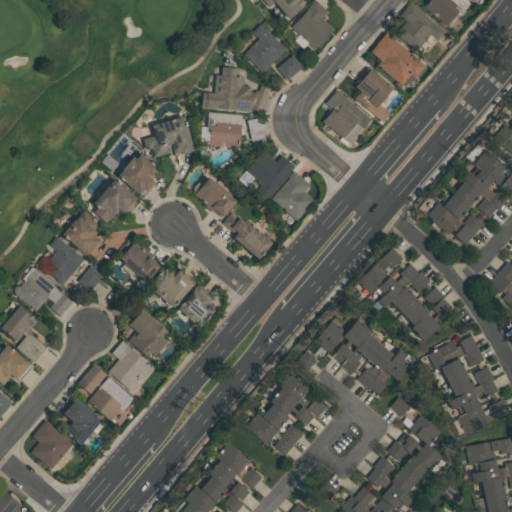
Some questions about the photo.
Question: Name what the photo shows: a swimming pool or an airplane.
swimming pool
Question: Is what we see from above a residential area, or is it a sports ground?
residential area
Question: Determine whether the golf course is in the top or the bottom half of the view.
top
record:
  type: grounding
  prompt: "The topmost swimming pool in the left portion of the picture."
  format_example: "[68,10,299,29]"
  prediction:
[154,103,182,120]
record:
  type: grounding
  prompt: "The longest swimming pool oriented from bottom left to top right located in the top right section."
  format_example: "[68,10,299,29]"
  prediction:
[386,93,404,112]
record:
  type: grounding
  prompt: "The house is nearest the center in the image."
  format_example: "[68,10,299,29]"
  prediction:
[222,212,274,259]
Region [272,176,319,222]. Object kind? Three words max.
house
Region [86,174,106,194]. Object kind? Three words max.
swimming pool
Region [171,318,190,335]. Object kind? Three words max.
swimming pool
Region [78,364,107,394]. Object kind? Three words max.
building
